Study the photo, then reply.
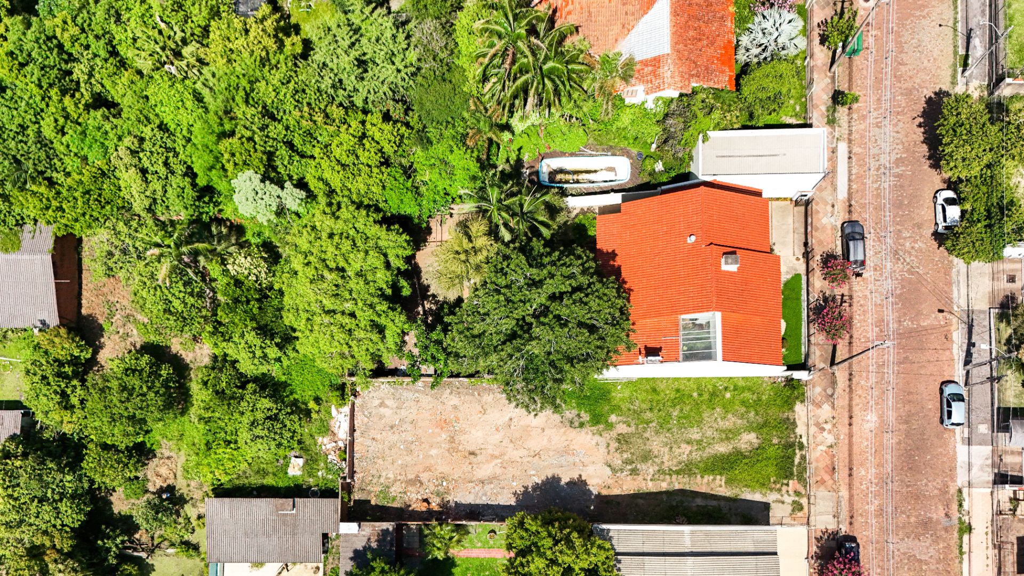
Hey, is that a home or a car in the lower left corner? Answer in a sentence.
The feature located in the lower left corner is a home.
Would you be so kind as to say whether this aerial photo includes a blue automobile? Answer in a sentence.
No, the picture doesn't show any blue automobile.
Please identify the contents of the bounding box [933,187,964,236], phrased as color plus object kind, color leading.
white car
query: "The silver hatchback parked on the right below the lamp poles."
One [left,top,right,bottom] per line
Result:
[939,382,970,429]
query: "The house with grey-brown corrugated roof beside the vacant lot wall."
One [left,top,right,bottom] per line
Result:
[204,498,347,563]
